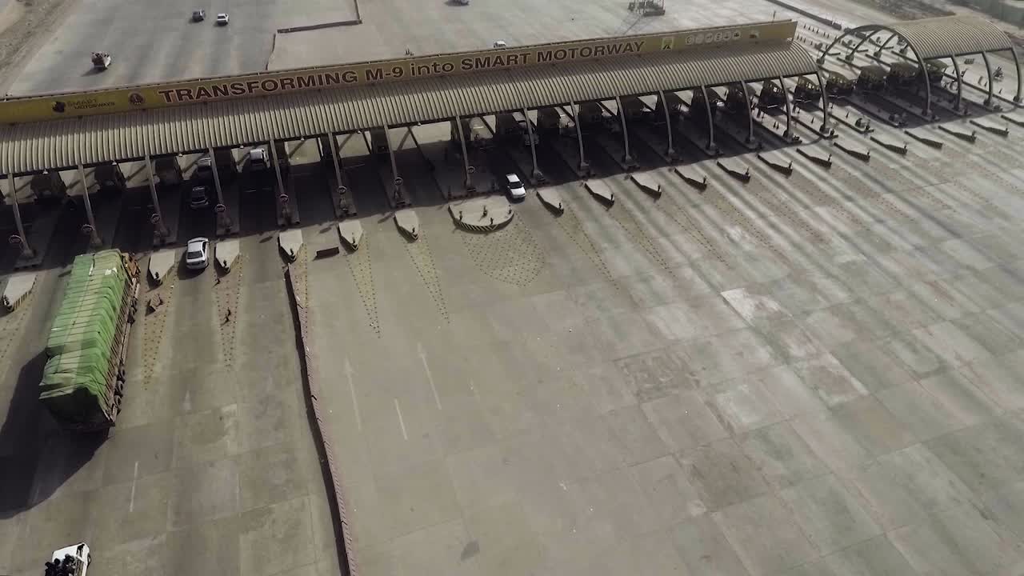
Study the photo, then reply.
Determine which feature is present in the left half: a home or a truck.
truck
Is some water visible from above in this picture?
No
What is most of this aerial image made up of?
paved ground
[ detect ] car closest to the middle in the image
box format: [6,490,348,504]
[503,171,528,196]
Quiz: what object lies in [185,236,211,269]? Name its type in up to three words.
car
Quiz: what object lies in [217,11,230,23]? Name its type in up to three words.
vehicle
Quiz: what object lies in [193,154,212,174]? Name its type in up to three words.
car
